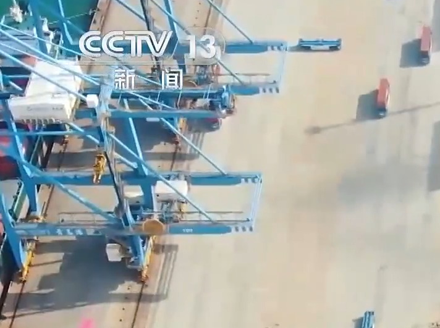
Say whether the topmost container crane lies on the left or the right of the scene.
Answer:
left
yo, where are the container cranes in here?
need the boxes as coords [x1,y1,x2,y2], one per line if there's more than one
[21,0,286,147]
[0,24,259,291]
